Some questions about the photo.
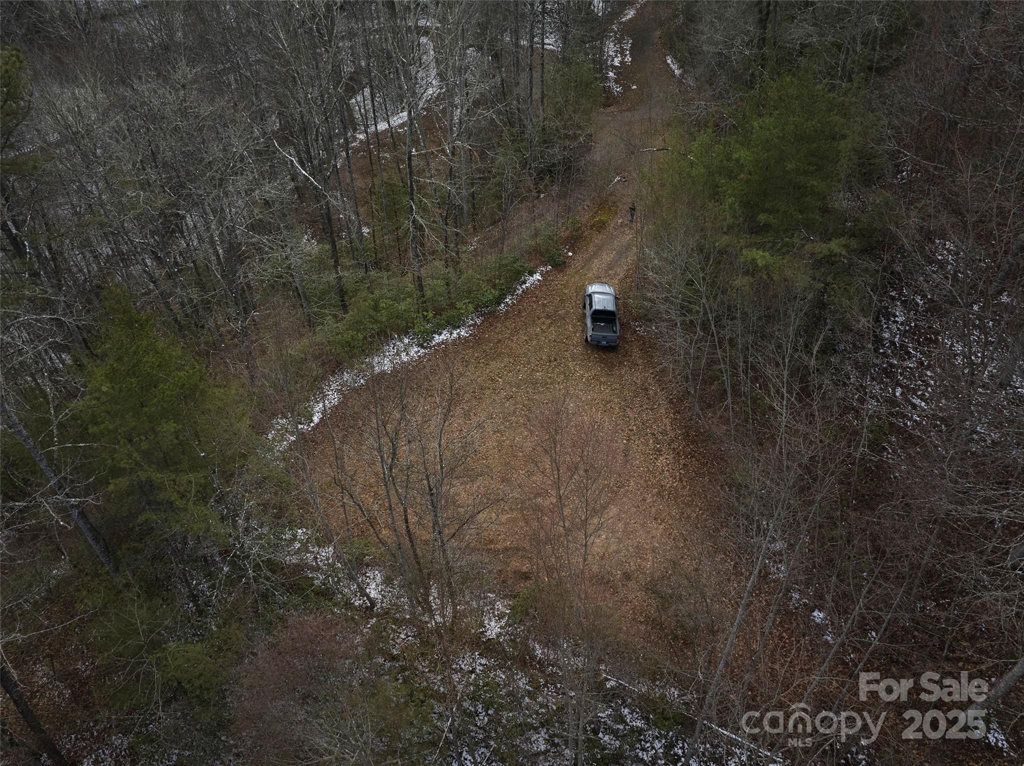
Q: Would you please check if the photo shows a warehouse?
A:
No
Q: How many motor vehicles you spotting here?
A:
1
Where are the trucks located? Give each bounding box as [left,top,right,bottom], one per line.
[585,281,623,347]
